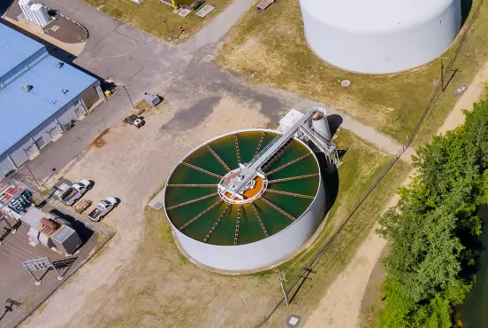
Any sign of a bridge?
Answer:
Yes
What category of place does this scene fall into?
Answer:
industrial area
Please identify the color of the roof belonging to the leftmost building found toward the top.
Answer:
blue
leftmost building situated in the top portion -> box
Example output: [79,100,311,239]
[0,24,104,179]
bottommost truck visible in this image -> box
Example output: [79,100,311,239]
[86,193,122,220]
